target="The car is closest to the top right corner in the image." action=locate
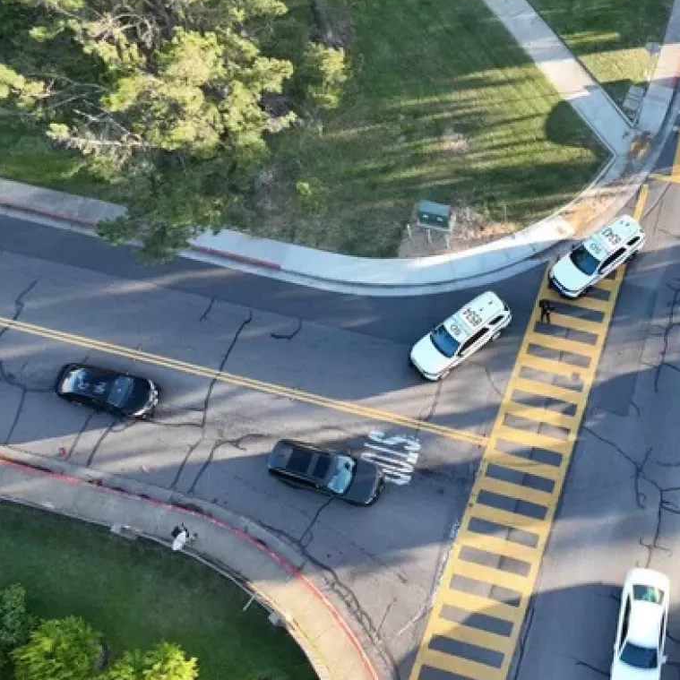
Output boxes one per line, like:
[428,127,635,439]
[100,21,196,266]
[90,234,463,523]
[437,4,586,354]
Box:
[552,215,651,300]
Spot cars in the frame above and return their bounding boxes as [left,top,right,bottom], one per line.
[48,366,166,422]
[611,569,670,680]
[263,439,386,511]
[410,291,516,382]
[552,215,651,300]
